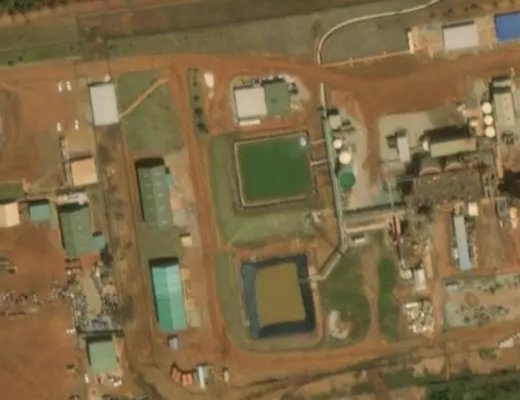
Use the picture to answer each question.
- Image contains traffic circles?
No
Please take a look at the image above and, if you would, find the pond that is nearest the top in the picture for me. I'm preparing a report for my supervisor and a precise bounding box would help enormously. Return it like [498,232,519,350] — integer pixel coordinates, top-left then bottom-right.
[232,130,317,211]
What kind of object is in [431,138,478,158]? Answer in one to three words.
house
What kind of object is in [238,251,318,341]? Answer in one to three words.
pond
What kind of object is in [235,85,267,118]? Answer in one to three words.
shed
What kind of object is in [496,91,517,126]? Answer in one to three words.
building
